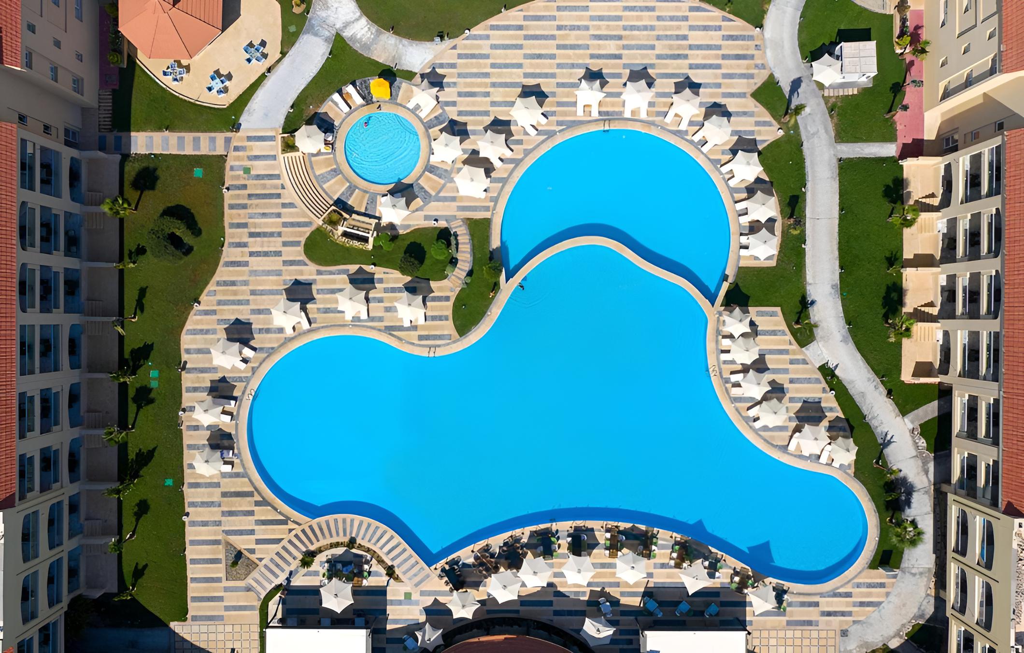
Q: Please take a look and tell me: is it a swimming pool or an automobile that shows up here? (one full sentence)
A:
The one in the frame is a swimming pool.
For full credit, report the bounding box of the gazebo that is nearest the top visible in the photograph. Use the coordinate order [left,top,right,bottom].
[118,0,223,60]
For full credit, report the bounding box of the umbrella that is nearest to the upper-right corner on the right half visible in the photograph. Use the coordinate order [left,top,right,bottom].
[810,51,841,86]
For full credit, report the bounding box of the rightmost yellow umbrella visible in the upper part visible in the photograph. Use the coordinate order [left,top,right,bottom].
[370,80,392,102]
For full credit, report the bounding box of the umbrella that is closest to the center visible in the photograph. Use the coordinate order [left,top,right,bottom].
[393,286,426,324]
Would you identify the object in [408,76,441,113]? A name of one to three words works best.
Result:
umbrella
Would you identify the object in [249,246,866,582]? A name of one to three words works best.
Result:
swimming pool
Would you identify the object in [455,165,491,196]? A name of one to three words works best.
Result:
umbrella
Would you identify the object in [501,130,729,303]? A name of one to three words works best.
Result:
swimming pool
